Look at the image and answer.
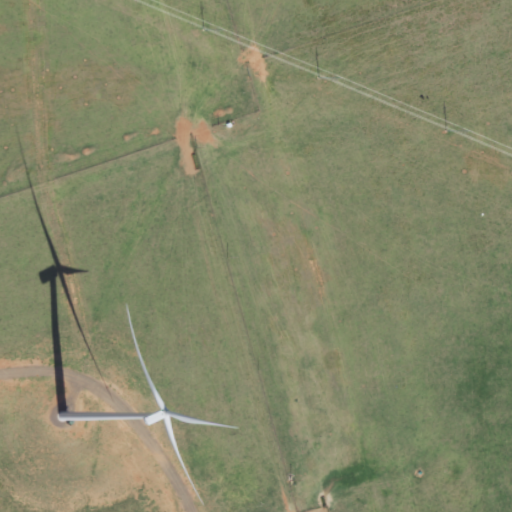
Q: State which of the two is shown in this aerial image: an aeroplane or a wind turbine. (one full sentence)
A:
The image shows a wind turbine.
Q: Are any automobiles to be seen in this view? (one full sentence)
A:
No, the frame has no automobile in it.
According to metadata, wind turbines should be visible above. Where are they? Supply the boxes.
[59,304,238,504]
